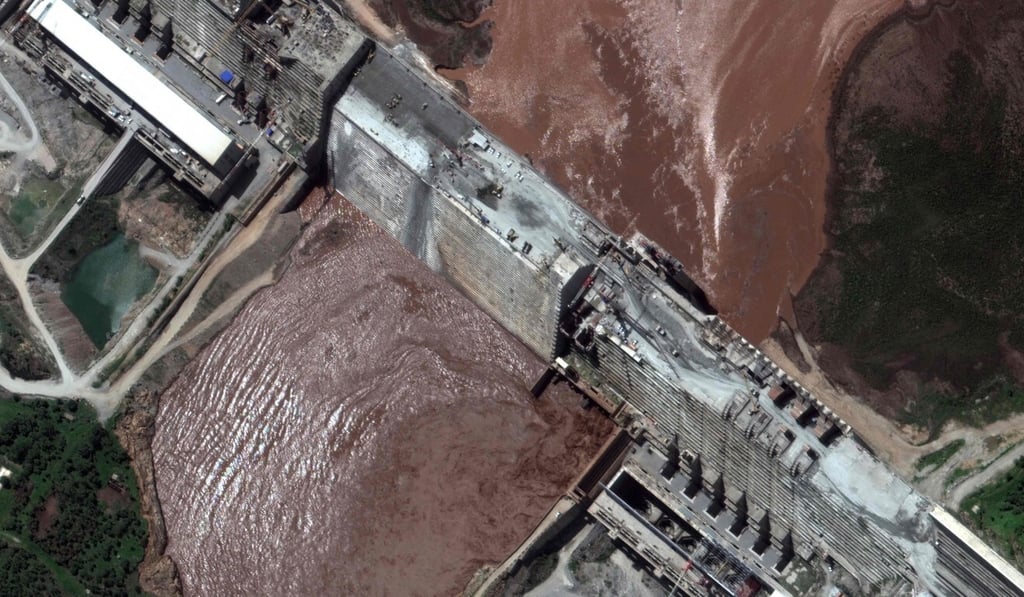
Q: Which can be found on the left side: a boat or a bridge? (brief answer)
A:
bridge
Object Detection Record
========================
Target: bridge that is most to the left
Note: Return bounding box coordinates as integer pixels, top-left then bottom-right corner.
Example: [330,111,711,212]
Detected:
[80,127,140,202]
